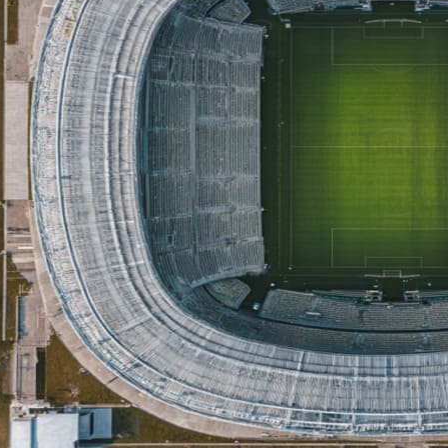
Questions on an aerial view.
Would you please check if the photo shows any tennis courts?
No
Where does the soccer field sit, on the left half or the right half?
right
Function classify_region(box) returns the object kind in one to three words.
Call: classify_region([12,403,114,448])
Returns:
building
